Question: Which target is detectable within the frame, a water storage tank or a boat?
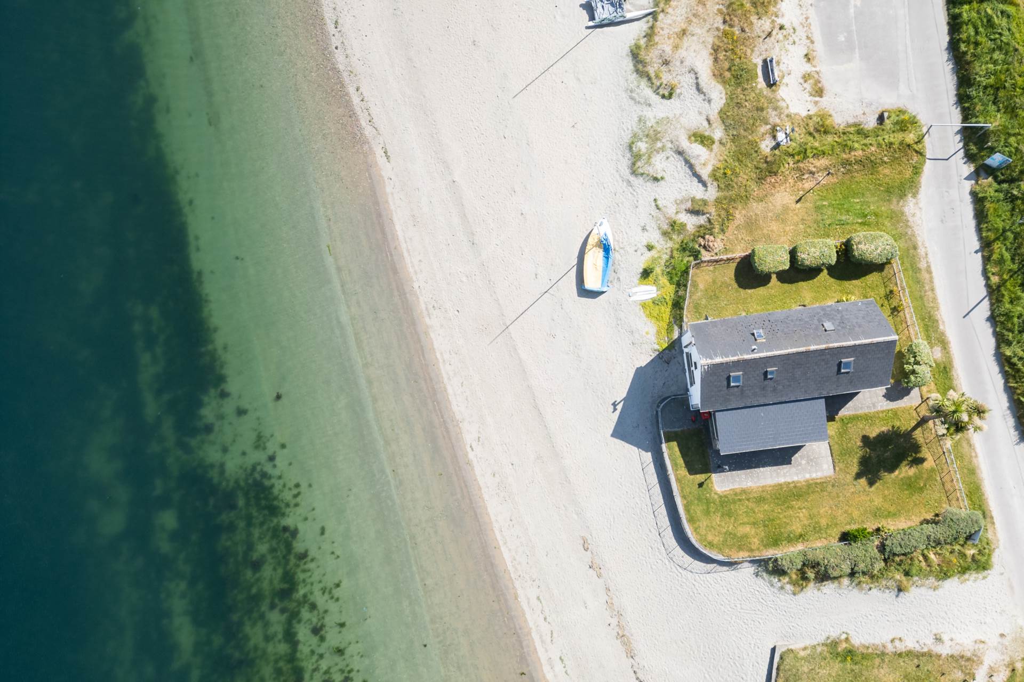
boat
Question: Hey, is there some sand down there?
Yes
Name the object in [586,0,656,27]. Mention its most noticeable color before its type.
white boat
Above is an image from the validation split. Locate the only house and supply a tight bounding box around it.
[678,298,899,456]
